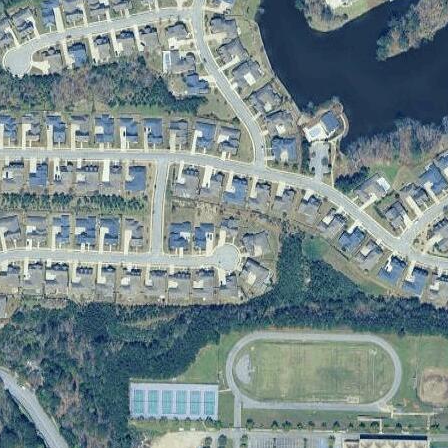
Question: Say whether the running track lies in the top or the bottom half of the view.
bottom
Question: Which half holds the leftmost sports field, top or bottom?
bottom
